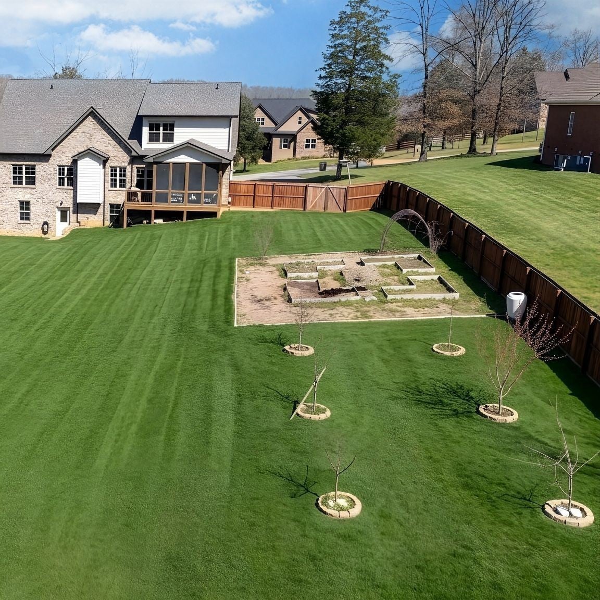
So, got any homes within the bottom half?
No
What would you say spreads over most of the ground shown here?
grass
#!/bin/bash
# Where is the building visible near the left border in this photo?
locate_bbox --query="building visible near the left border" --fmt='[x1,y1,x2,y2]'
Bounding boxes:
[0,76,240,242]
